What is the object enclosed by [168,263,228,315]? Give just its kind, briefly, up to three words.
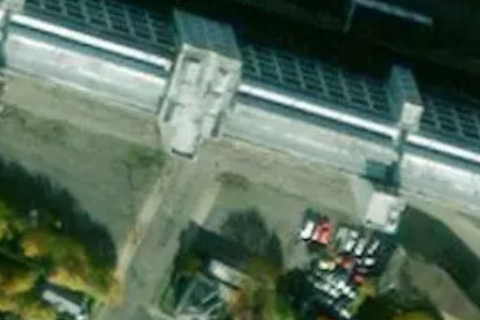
house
